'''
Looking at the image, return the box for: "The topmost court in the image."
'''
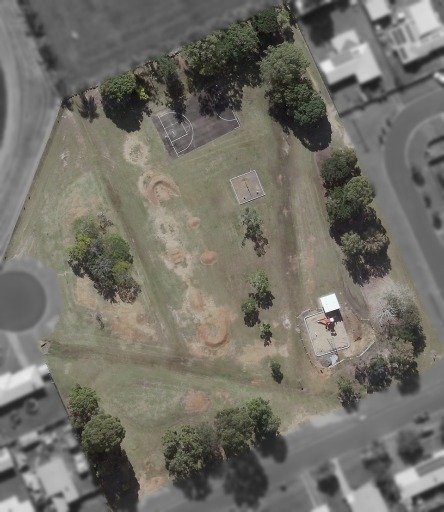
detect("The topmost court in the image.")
[152,82,242,160]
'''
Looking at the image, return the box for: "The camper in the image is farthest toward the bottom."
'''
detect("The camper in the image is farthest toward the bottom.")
[74,454,88,472]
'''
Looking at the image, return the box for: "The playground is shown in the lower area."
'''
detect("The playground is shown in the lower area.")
[304,306,350,356]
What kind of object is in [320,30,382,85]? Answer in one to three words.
house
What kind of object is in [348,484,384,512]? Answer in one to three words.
house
